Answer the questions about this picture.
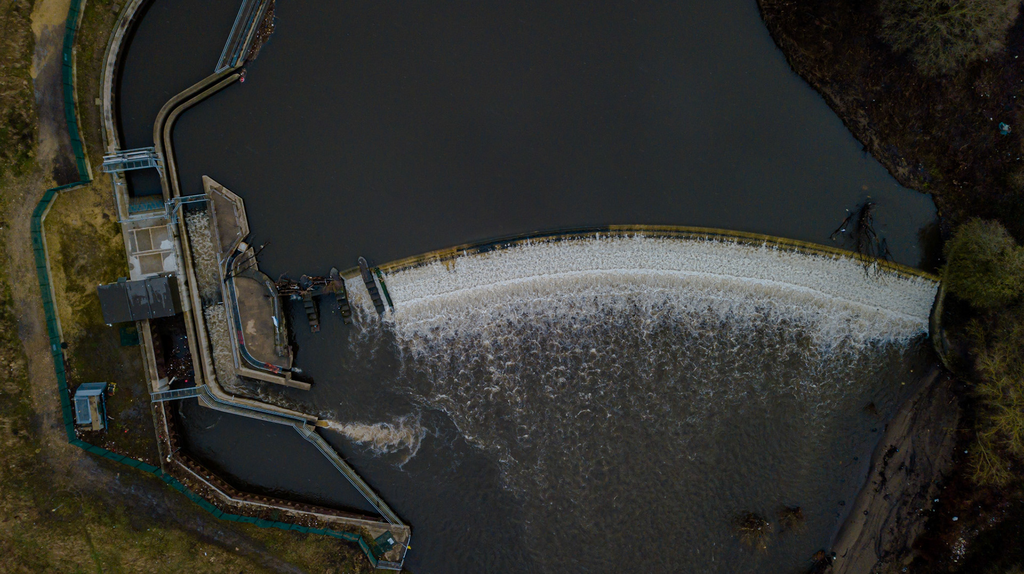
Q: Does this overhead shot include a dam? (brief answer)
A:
Yes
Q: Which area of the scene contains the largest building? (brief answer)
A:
left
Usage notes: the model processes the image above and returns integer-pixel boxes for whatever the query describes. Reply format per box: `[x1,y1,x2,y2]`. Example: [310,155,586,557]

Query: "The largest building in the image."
[97,275,186,325]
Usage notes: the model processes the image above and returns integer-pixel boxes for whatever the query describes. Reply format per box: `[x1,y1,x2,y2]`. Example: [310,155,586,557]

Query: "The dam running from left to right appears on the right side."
[378,224,946,287]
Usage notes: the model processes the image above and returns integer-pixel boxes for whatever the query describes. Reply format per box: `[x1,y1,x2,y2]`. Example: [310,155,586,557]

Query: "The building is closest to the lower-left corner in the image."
[76,382,111,396]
